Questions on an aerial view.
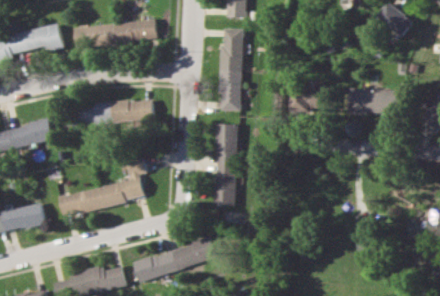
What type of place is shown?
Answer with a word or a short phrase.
residential area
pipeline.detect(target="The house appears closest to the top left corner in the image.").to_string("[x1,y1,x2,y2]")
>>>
[0,26,64,62]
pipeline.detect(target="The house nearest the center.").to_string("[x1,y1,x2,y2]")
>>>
[218,124,239,206]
